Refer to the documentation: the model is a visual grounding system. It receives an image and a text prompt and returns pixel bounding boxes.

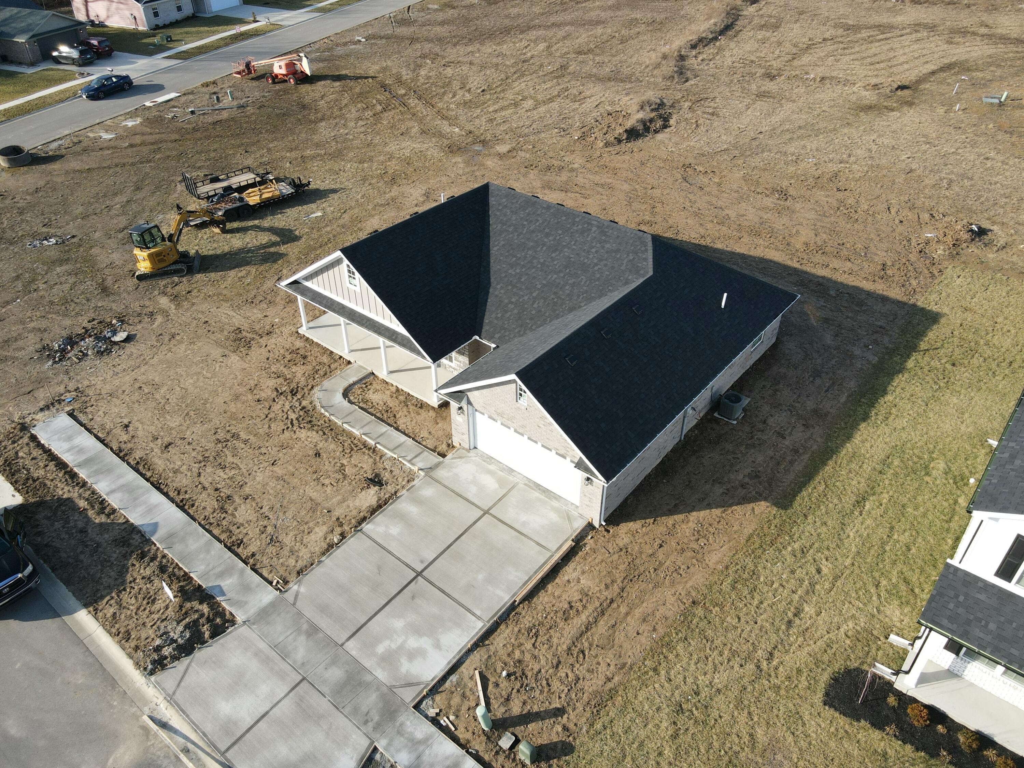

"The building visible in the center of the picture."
[277,180,798,536]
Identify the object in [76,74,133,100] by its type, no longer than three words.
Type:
car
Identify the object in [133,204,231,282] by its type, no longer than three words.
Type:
work vehicle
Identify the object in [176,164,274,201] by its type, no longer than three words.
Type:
trailer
